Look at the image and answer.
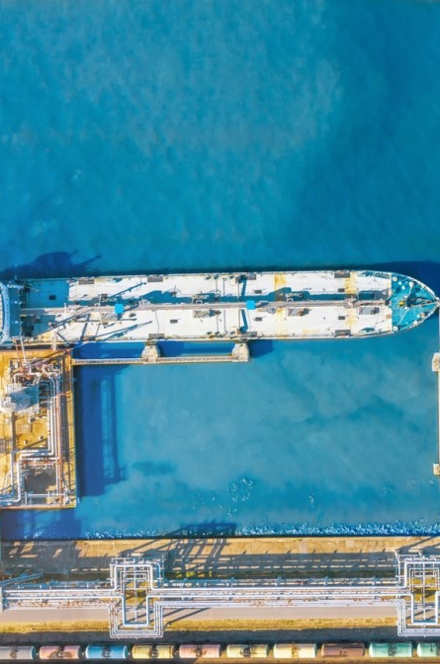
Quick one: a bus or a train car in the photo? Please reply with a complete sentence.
It is a train car that can be seen here.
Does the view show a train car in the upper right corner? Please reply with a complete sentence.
No, I can find no train car in the upper right corner.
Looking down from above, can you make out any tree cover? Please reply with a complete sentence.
No, no tree cover is visible.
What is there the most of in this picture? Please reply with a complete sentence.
For the most part, this view shows water.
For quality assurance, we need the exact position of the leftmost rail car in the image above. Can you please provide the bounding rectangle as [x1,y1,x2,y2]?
[0,644,42,661]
